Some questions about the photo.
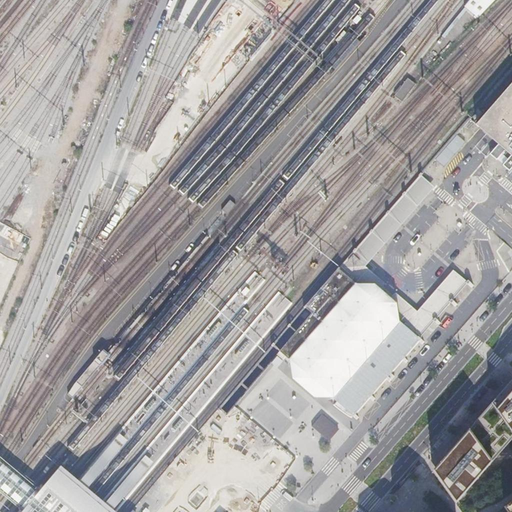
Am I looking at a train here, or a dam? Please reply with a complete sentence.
Of the two, only a train appears.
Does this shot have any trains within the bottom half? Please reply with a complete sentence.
Yes, within the bottom half there is a train.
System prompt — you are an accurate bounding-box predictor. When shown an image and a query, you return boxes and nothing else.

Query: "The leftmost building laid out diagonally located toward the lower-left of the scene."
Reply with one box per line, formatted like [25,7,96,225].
[64,350,115,403]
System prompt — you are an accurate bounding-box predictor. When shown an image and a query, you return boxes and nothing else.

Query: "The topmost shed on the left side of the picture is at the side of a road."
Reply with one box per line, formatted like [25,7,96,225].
[167,0,229,34]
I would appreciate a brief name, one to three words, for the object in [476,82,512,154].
building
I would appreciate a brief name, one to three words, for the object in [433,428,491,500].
building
